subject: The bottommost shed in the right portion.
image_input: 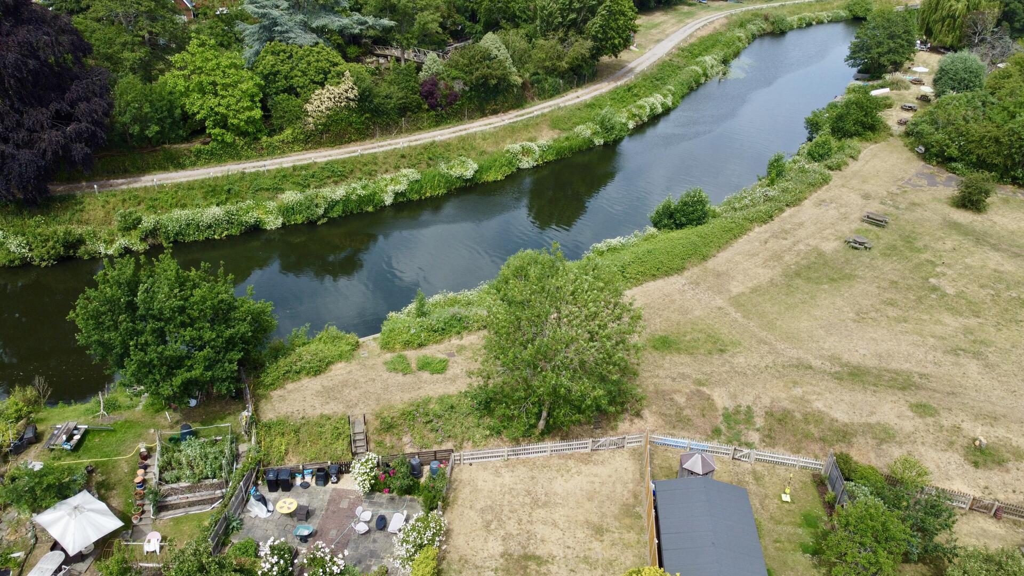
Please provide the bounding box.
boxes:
[652,474,771,576]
